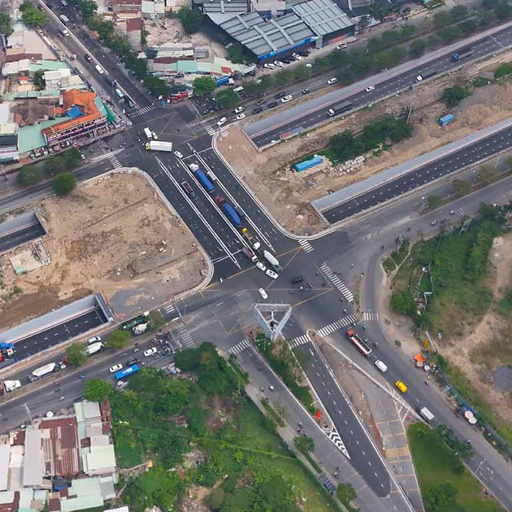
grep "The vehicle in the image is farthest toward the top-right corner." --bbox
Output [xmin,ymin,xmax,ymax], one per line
[452,49,474,62]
